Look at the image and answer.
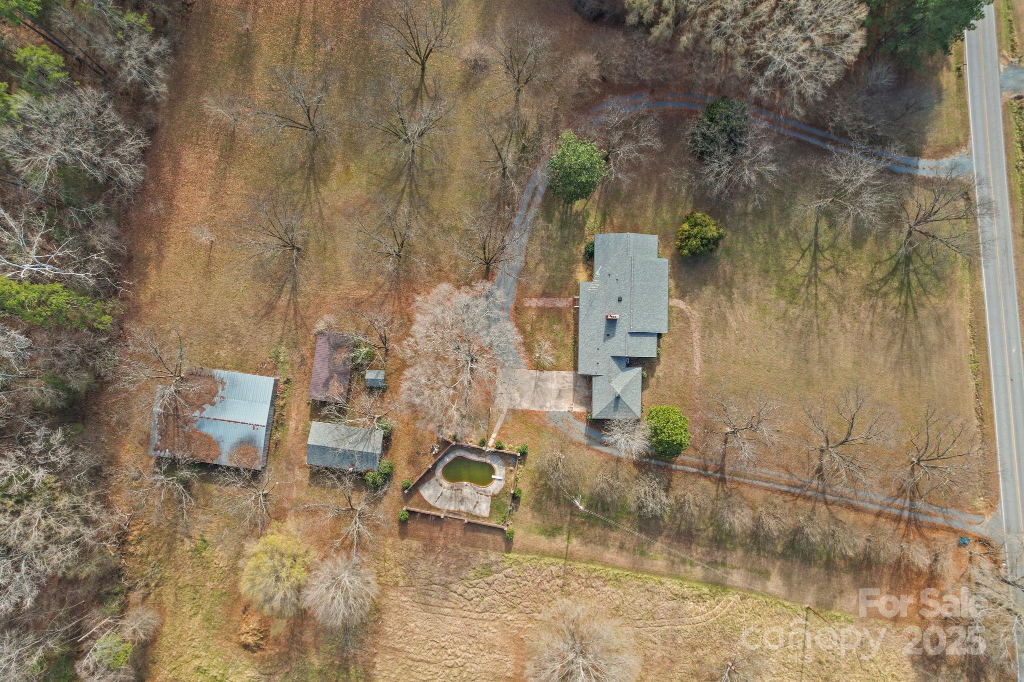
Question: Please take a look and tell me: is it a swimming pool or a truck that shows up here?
swimming pool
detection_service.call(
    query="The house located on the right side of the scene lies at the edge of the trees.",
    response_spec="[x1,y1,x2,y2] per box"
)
[574,232,668,420]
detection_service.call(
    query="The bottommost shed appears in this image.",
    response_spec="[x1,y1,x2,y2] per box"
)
[307,421,383,472]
